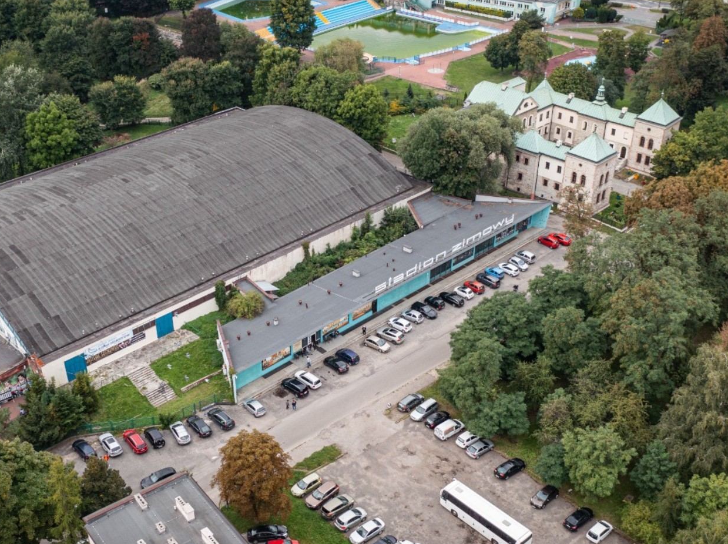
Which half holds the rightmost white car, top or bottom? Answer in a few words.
bottom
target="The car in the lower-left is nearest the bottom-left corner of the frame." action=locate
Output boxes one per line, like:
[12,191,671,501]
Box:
[72,437,97,463]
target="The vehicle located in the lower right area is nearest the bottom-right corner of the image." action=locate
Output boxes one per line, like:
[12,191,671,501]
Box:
[585,521,613,544]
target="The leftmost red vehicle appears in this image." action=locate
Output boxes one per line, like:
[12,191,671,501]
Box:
[122,429,150,456]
